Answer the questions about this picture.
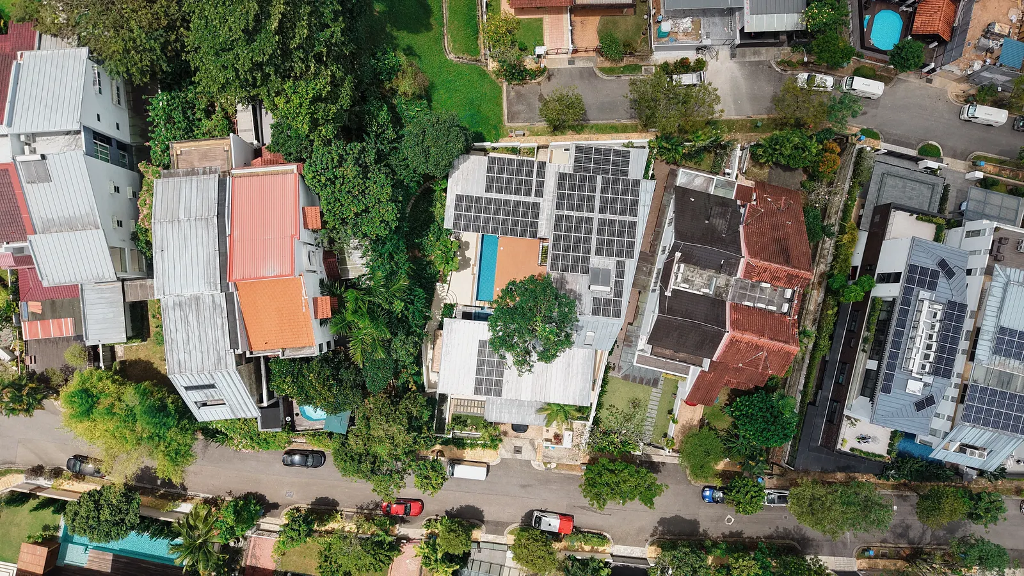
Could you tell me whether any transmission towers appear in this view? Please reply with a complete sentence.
No, there's no transmission tower here.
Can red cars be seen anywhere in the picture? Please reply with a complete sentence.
Yes, looking at the shot, I can spot a red car.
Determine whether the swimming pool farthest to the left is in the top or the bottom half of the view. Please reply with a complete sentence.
Seen from above, the swimming pool farthest to the left lies in the bottom half of the view.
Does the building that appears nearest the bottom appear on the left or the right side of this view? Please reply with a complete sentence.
The building that appears nearest the bottom appears in the left half of the scene.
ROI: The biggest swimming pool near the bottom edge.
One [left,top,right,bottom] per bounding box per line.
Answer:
[56,513,188,567]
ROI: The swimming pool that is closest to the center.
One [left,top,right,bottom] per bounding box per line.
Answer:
[470,234,497,306]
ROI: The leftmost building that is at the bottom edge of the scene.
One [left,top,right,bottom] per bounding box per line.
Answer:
[16,534,72,576]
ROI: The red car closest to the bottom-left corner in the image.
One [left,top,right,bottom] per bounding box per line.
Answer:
[381,496,426,518]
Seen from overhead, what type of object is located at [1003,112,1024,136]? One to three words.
car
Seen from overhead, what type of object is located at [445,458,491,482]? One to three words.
vehicle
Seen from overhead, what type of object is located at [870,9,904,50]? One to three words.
swimming pool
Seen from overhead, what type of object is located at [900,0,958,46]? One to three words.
building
